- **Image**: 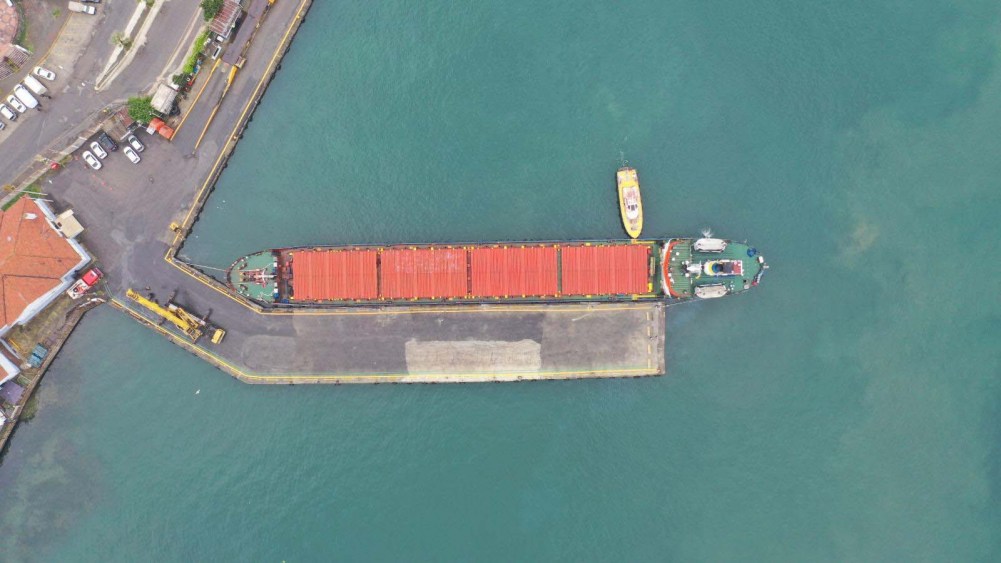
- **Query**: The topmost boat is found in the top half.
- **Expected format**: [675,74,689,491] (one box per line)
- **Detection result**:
[616,166,642,238]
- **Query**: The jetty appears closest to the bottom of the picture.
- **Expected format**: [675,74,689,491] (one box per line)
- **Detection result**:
[106,256,666,385]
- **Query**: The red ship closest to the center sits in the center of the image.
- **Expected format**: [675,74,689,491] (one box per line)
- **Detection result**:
[228,239,770,306]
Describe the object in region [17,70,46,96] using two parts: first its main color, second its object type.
white truck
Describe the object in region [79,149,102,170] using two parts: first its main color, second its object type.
white car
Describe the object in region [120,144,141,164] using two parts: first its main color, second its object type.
white car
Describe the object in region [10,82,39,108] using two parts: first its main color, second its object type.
white vehicle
